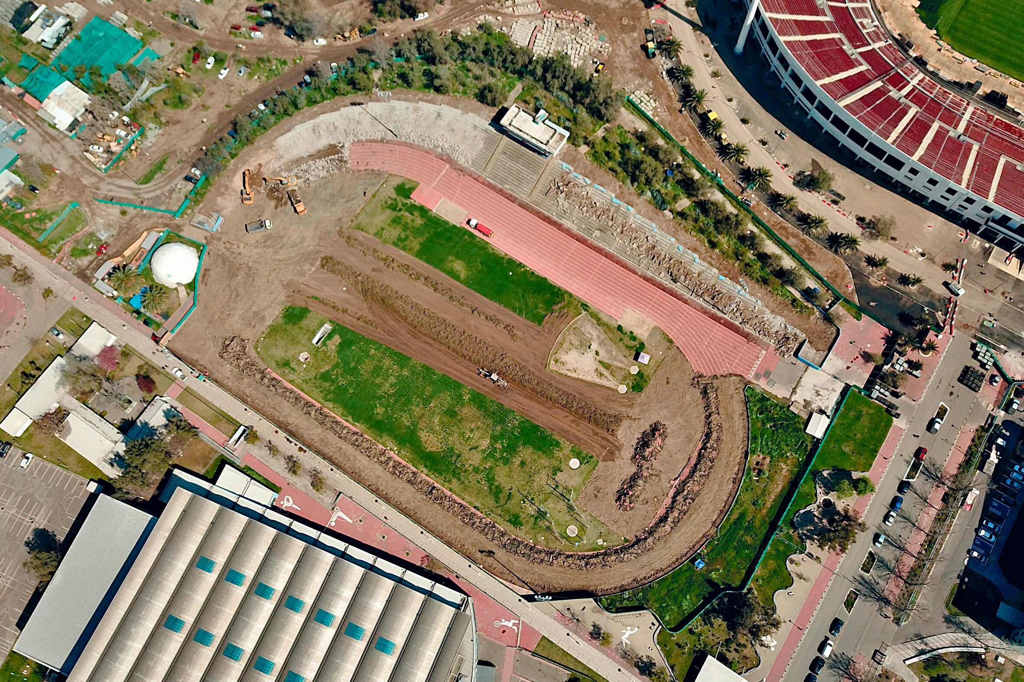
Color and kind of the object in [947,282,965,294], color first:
white vehicle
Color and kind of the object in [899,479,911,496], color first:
black vehicle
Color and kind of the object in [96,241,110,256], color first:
red work vehicle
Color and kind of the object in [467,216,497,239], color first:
red truck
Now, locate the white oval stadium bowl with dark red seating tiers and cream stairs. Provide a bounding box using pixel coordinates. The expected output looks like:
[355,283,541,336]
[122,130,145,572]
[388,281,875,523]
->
[728,0,1024,248]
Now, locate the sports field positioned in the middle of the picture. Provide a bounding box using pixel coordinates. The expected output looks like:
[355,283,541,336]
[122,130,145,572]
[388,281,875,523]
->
[257,174,674,552]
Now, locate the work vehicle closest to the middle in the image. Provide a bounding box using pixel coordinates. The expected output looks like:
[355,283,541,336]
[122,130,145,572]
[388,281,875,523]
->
[478,369,511,391]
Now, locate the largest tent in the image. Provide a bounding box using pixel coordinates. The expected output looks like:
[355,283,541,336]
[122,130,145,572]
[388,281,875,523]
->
[153,245,198,293]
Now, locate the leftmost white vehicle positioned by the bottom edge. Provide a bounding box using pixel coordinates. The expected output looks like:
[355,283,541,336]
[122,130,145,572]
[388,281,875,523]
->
[822,639,834,659]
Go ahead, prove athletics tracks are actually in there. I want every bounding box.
[266,137,778,553]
